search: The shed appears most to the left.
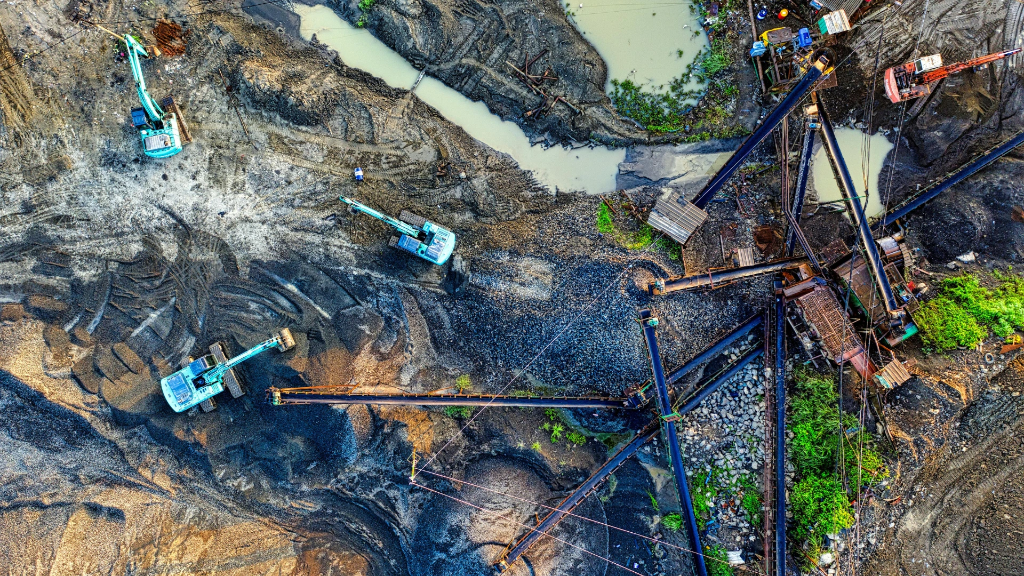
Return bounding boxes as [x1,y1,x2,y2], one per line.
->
[647,192,709,246]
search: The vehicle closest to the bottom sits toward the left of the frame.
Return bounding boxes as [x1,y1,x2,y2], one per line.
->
[163,322,300,419]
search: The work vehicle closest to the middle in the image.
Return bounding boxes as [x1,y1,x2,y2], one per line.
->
[331,191,455,269]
